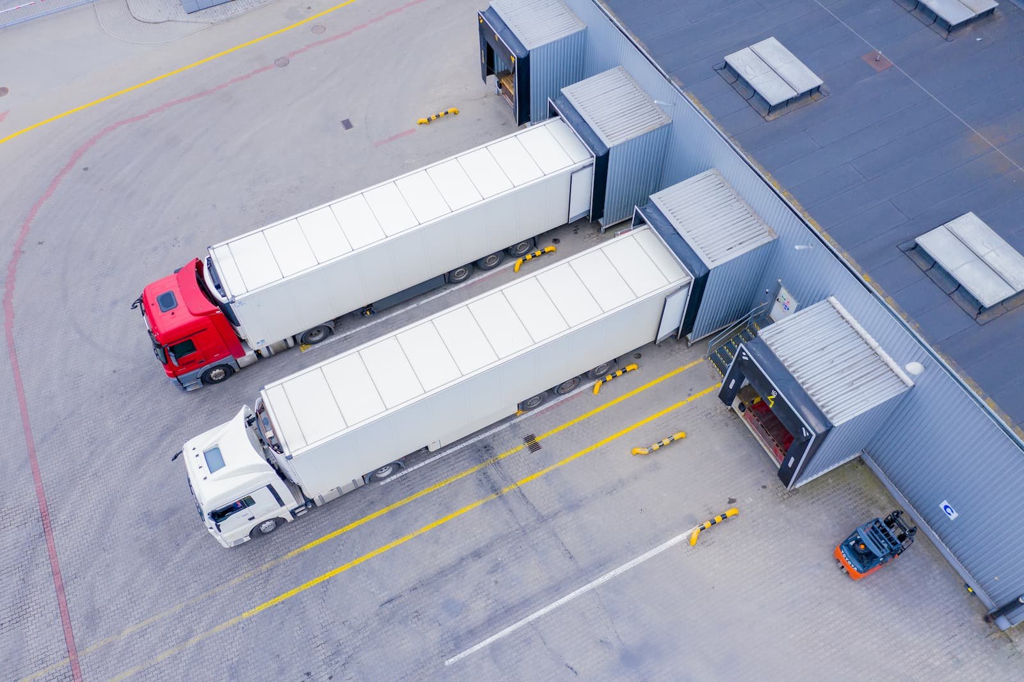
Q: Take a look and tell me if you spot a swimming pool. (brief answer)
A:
No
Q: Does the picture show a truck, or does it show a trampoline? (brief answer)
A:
truck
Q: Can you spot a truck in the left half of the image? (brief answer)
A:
Yes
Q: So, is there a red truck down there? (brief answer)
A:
Yes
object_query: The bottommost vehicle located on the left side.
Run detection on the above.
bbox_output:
[175,407,400,547]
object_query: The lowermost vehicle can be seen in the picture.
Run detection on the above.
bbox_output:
[830,507,921,582]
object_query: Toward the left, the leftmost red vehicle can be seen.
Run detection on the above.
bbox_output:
[134,257,333,390]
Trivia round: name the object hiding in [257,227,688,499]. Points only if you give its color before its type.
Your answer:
white trailer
